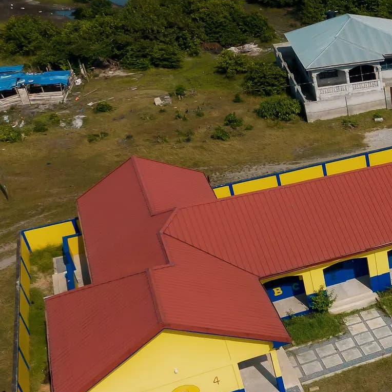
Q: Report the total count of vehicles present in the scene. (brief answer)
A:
none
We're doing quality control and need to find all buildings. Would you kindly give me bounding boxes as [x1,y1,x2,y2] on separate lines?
[281,16,392,101]
[0,64,74,110]
[46,159,392,392]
